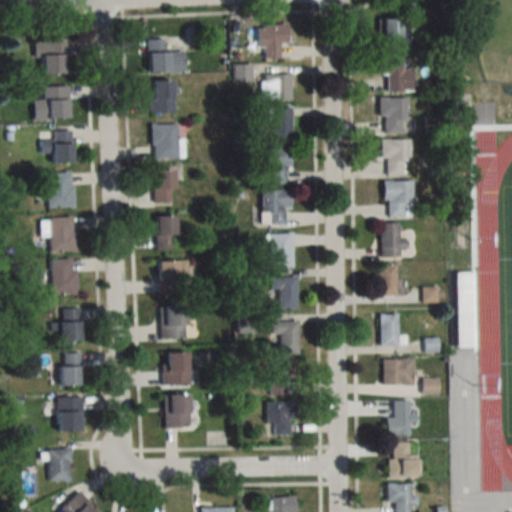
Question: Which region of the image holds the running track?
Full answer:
Look in the right portion of the view to spot the running track.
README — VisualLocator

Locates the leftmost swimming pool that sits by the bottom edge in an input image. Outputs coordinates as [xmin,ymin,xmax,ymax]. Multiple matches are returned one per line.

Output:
[22,466,38,496]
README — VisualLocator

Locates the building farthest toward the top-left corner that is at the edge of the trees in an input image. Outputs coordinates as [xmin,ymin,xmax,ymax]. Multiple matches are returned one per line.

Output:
[34,40,68,74]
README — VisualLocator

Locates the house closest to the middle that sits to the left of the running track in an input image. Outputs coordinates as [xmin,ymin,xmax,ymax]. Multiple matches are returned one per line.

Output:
[270,233,296,270]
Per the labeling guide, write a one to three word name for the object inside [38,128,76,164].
house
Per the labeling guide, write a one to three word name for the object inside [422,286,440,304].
shed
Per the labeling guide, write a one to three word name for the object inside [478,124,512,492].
running track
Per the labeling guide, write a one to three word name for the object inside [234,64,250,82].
building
